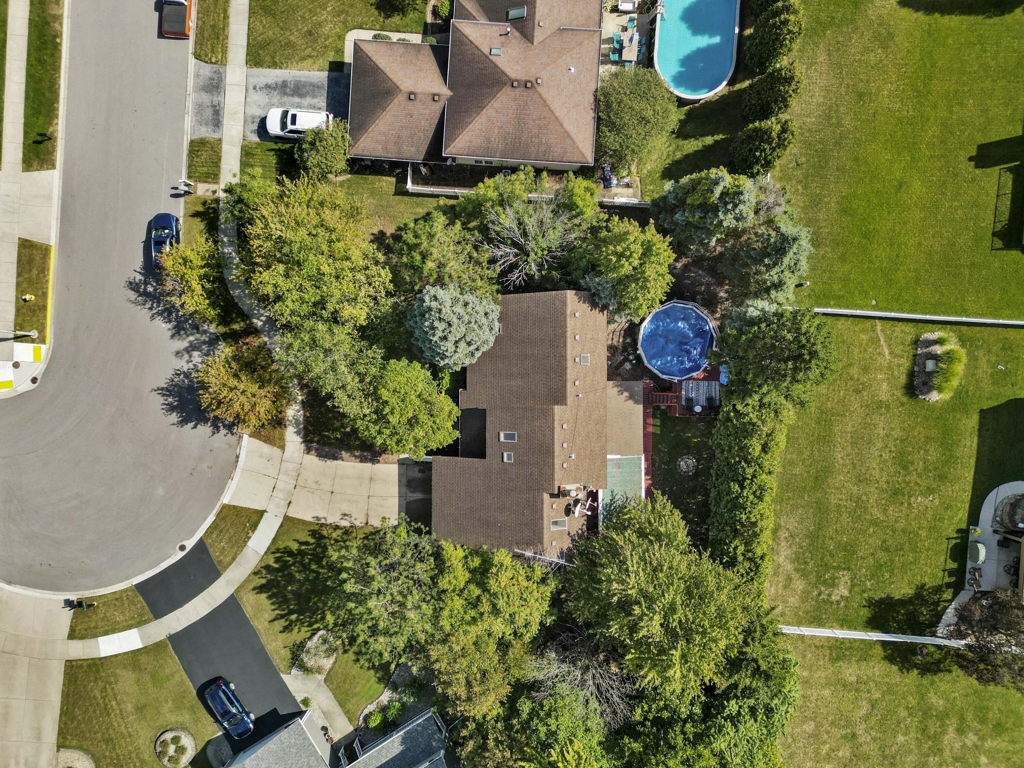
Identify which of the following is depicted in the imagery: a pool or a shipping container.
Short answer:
pool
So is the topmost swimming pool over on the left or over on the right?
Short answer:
right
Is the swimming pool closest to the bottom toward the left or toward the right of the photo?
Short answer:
right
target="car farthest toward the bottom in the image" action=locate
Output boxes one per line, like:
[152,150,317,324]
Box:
[204,676,257,739]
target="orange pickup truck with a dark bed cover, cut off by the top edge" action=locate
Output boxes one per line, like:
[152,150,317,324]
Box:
[162,0,193,40]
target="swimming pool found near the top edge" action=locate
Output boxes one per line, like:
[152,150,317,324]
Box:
[648,0,741,106]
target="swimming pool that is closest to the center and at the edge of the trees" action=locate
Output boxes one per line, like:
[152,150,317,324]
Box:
[634,300,717,382]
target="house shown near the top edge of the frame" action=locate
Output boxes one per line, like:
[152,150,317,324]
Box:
[346,0,605,173]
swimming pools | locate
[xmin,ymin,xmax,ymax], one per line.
[648,0,741,106]
[634,300,717,382]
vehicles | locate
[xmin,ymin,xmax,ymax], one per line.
[267,103,335,138]
[149,214,183,277]
[204,676,257,739]
[162,0,193,40]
